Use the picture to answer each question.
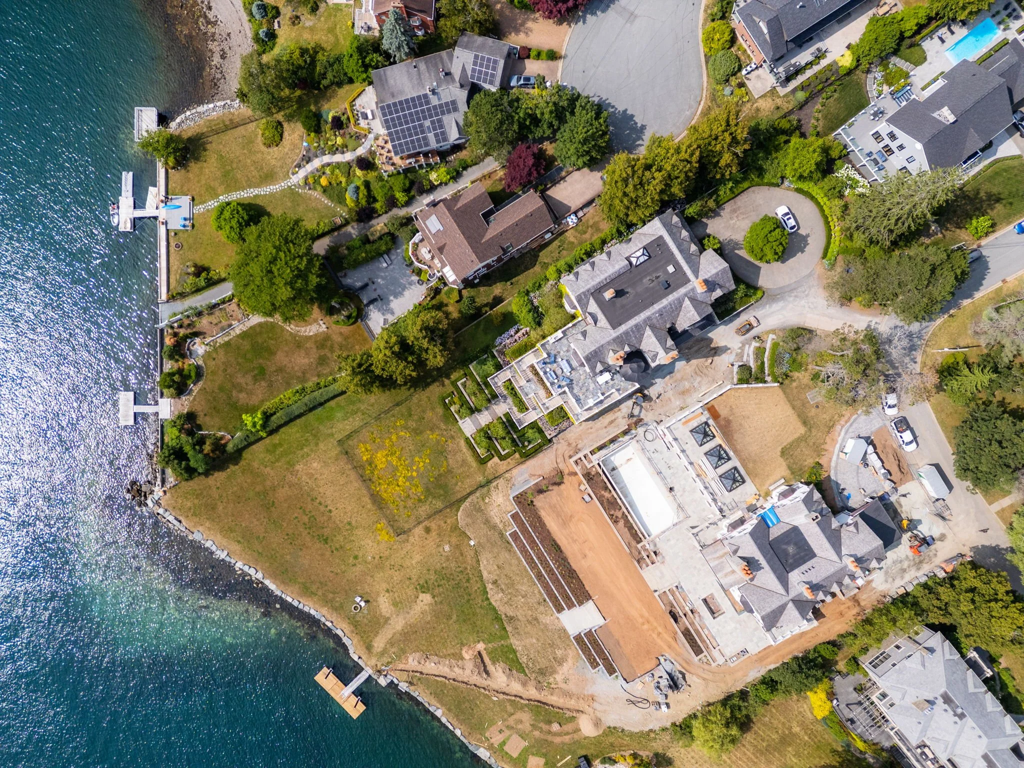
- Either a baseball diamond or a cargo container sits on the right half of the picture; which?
cargo container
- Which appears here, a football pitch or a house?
house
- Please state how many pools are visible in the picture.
2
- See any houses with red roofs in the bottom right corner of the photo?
No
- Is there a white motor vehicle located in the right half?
Yes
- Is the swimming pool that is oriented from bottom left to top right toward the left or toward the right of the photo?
right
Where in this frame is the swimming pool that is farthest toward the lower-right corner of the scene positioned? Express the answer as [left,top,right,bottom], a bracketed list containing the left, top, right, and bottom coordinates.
[598,441,680,540]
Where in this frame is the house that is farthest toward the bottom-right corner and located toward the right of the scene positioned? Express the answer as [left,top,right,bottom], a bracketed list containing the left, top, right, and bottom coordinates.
[849,623,1024,768]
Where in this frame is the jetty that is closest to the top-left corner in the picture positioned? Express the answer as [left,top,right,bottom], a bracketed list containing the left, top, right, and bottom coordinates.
[131,104,159,141]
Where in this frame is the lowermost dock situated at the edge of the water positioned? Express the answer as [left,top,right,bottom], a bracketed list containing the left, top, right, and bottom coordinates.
[314,665,370,719]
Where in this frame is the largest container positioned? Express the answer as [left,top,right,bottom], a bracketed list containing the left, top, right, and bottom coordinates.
[911,462,949,498]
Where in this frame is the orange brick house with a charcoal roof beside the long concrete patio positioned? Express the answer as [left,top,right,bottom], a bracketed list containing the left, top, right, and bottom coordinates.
[730,0,860,83]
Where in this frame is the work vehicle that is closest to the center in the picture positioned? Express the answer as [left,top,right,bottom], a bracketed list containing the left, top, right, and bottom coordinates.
[629,388,650,421]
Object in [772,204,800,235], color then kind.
white car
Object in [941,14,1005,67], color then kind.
blue swimming pool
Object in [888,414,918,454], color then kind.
white truck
